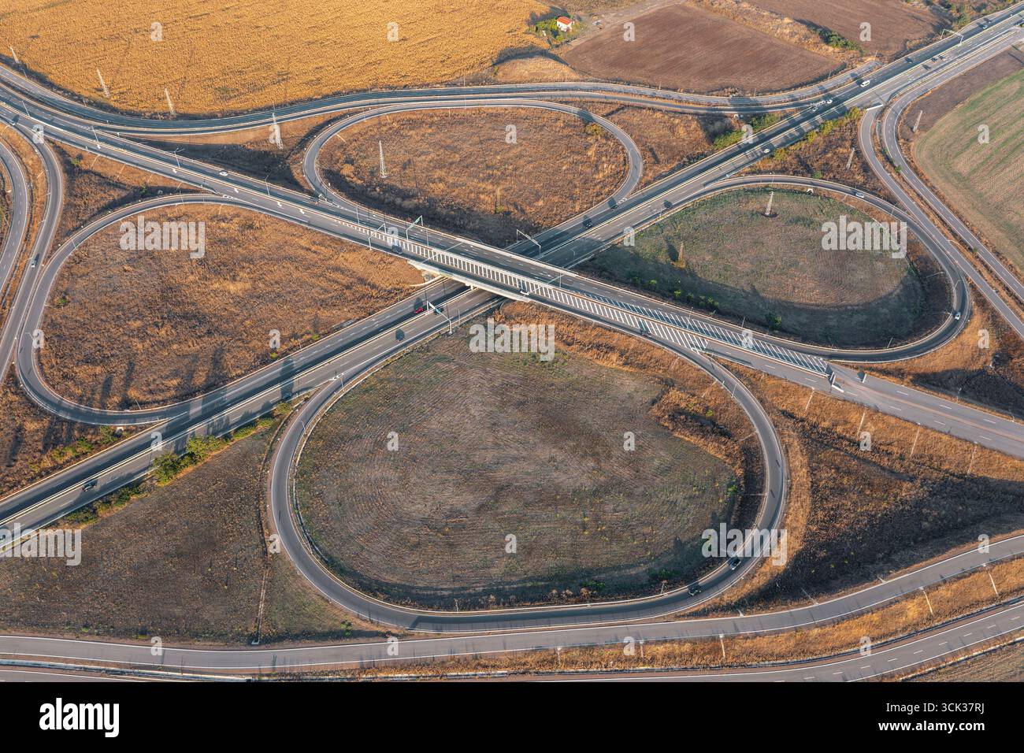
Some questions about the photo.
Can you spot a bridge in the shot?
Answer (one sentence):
Yes, the photo shows a bridge.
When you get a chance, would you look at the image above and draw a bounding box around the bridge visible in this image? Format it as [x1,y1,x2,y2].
[409,238,577,303]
